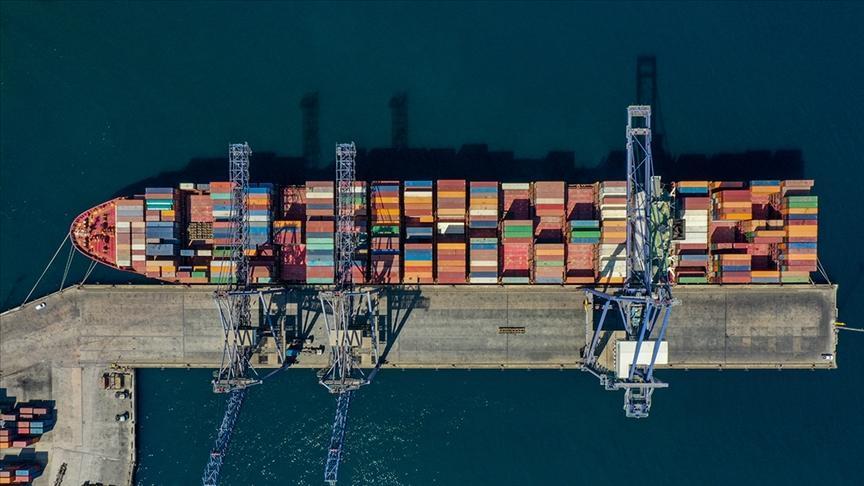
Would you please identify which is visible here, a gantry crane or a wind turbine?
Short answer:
gantry crane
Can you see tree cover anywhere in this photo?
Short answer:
No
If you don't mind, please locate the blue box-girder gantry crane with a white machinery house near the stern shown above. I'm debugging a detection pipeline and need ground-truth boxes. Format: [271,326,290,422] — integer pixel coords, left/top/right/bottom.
[576,103,679,419]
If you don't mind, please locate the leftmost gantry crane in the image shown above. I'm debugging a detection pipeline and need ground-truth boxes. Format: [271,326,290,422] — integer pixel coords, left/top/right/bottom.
[194,143,297,486]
